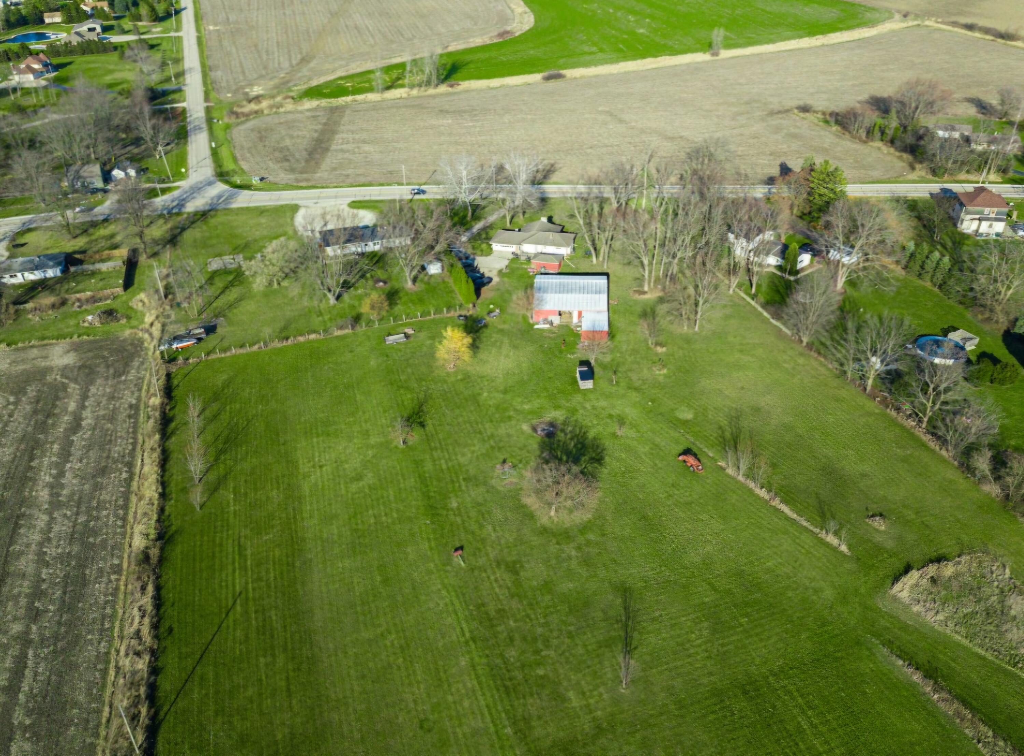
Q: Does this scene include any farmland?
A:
Yes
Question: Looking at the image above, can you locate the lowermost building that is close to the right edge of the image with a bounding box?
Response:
[955,188,1018,241]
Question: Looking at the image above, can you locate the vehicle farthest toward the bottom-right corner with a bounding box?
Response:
[675,452,708,473]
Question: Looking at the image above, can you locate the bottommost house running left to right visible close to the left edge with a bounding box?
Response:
[0,248,67,287]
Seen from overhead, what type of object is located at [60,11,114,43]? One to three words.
house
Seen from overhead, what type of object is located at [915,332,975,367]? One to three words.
swimming pool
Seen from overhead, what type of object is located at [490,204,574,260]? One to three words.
house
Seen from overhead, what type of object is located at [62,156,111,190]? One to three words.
shed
